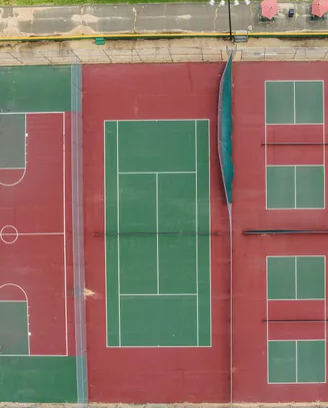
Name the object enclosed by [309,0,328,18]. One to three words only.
umbrella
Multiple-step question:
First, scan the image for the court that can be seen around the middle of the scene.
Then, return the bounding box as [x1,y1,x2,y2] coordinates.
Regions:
[81,62,232,403]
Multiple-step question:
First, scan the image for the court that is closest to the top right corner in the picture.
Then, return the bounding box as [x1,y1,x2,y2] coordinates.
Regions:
[265,80,324,209]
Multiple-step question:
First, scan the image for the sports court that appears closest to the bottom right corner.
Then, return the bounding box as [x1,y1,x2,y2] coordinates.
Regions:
[266,256,326,384]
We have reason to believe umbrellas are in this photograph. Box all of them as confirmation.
[309,0,328,18]
[259,0,279,20]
